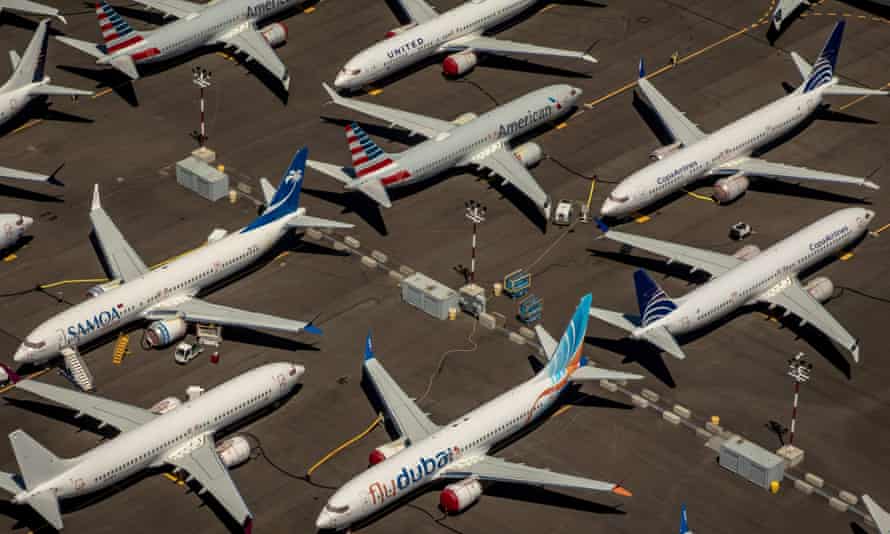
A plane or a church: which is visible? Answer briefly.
plane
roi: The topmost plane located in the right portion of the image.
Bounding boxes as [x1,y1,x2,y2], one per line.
[772,0,829,30]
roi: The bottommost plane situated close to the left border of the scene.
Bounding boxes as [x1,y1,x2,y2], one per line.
[0,361,303,534]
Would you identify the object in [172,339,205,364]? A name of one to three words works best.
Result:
truck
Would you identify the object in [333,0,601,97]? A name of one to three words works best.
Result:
airplane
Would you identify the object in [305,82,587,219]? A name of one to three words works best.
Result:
airplane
